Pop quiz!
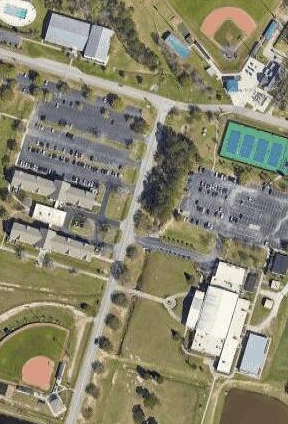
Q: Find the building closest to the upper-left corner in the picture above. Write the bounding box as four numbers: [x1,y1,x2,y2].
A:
[43,12,115,64]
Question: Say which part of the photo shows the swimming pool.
top left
